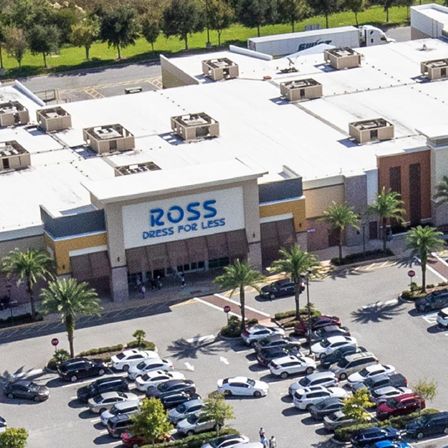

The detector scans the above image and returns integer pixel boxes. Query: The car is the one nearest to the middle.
[261,281,306,299]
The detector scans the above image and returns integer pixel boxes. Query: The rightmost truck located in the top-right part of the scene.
[350,21,399,49]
